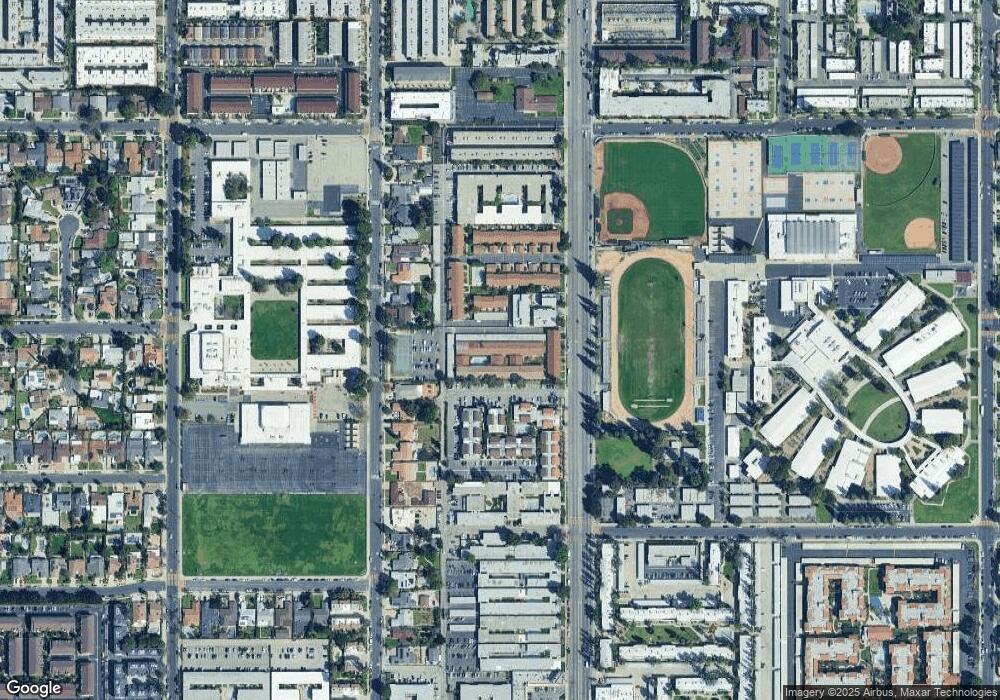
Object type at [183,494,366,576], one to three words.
sports field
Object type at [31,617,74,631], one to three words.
building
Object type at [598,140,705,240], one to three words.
baseball field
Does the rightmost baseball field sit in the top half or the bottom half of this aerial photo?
top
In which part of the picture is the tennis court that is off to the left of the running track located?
center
